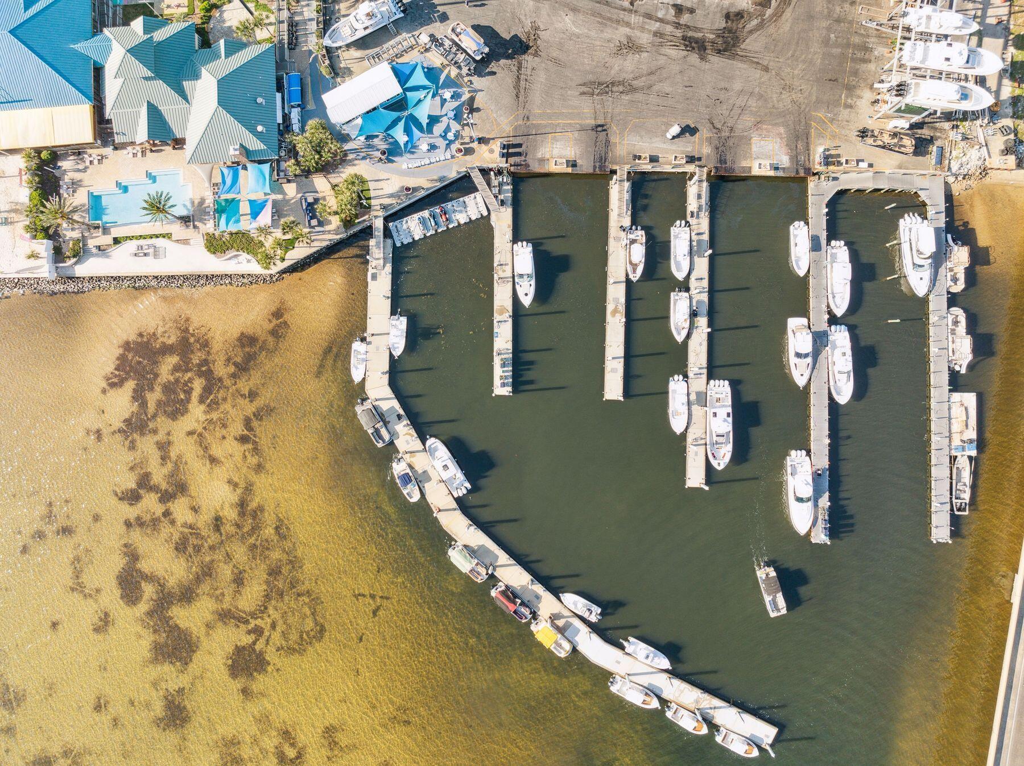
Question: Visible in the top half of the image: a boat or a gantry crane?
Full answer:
What appears in the top half of the image is a boat.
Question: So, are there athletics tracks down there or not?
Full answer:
No, there appears to be no athletics track in this shot.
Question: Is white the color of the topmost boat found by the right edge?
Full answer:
Yes, the topmost boat found by the right edge is indeed white.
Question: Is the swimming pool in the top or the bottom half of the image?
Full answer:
The swimming pool is in the top half of the image.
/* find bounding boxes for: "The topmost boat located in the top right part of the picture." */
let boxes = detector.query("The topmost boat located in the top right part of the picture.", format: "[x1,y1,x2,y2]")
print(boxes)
[894,8,985,41]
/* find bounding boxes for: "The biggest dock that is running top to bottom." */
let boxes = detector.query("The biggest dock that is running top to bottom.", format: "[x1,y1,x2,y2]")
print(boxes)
[803,168,954,546]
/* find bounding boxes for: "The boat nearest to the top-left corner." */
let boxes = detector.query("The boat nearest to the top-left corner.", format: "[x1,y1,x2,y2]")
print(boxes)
[321,0,406,50]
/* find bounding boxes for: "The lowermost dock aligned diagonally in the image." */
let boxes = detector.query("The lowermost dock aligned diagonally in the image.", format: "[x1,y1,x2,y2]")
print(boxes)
[365,239,777,749]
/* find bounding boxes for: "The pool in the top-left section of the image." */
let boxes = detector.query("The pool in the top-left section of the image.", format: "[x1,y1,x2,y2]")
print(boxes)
[84,165,195,228]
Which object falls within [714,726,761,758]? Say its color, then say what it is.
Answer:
white boat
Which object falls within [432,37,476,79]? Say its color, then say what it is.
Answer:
gray boat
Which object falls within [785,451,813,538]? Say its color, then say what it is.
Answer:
white boat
